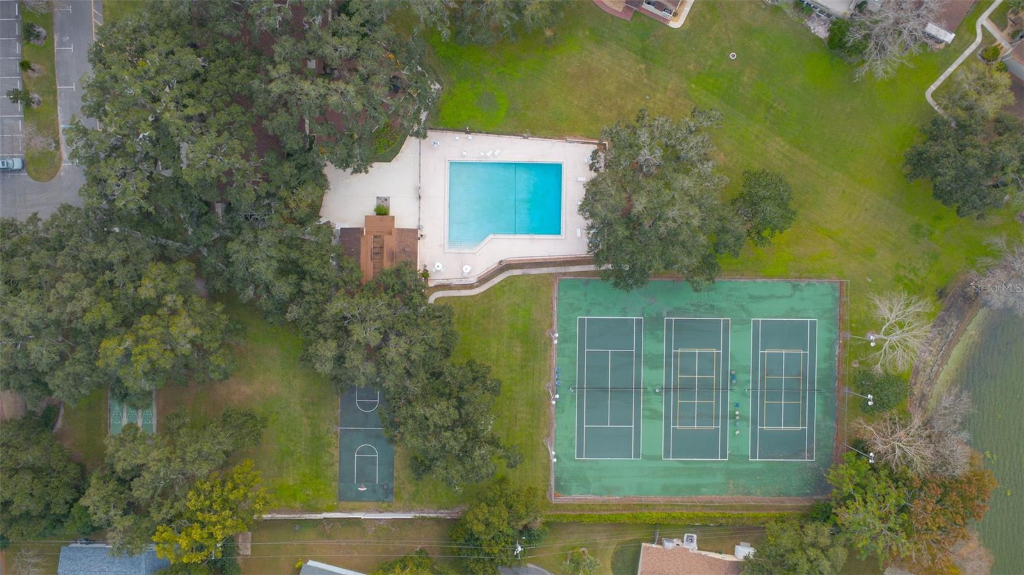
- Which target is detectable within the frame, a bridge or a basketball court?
basketball court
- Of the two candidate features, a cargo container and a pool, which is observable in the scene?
pool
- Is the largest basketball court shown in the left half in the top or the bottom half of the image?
bottom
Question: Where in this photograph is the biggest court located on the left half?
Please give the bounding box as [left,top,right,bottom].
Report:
[337,381,396,502]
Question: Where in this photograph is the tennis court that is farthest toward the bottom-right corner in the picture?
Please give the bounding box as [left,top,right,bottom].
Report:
[749,318,818,461]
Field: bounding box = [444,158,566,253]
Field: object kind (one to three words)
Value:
swimming pool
